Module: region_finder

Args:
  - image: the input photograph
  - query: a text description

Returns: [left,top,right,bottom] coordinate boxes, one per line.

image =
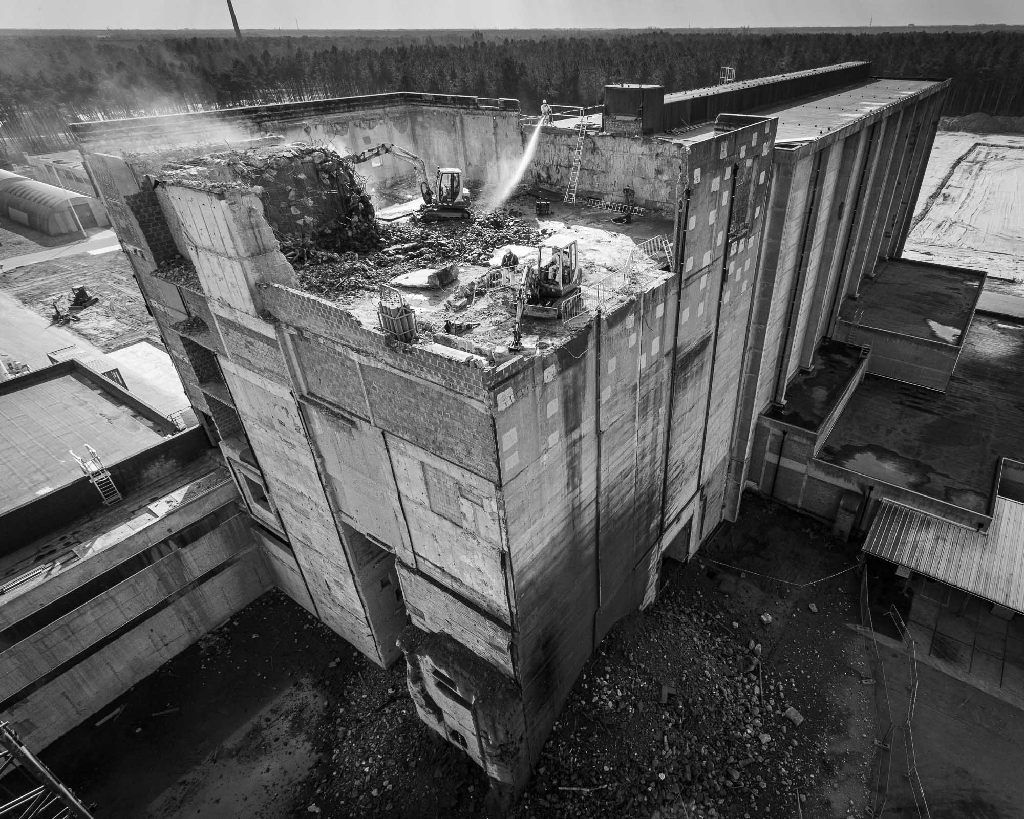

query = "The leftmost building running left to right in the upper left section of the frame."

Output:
[0,179,110,235]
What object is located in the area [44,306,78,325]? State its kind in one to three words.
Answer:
work vehicle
